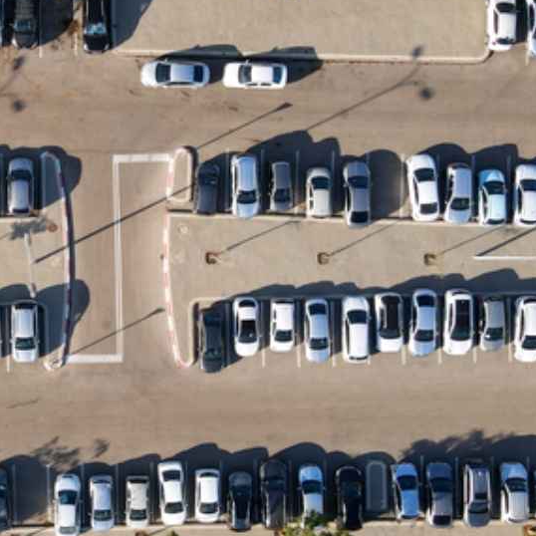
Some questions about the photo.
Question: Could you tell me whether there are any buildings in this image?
No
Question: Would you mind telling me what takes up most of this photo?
paved ground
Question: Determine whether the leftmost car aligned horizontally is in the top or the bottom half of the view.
top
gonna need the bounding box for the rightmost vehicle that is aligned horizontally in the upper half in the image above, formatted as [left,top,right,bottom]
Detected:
[224,60,287,89]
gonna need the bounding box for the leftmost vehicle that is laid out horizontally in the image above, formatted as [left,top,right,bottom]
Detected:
[141,58,209,89]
